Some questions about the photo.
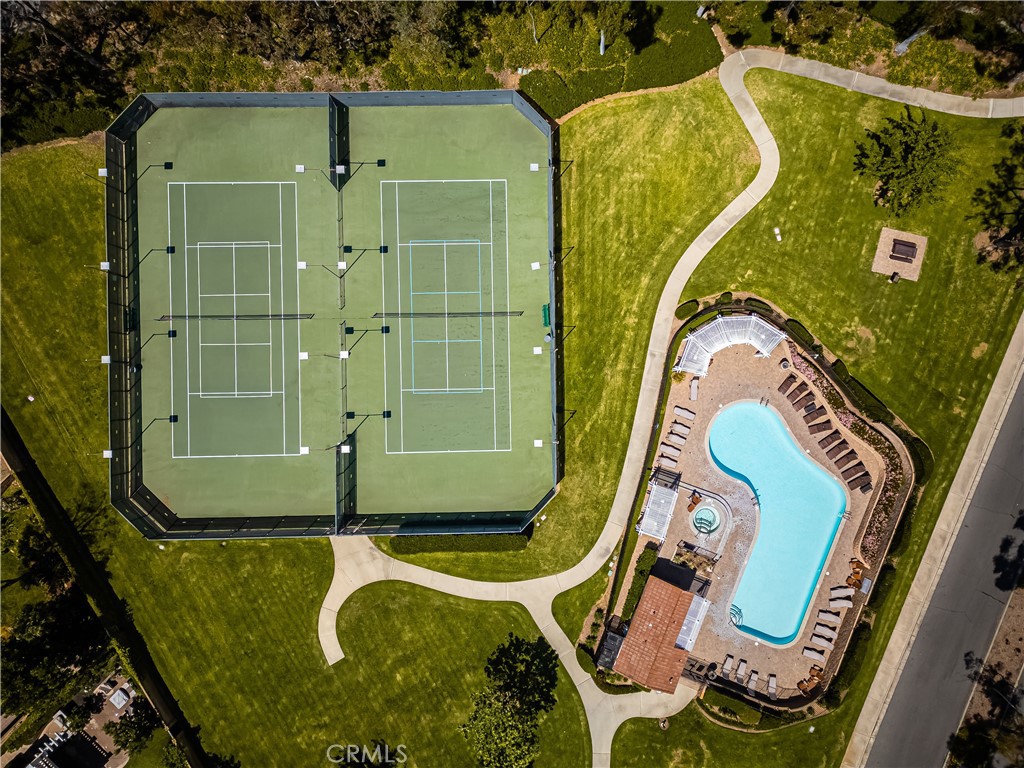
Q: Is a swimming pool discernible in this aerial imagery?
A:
Yes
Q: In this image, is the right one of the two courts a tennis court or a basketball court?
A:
tennis court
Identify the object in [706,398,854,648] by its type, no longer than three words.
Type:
swimming pool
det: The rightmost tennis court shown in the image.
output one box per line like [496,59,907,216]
[336,104,554,529]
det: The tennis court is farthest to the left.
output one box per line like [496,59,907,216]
[124,105,344,533]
